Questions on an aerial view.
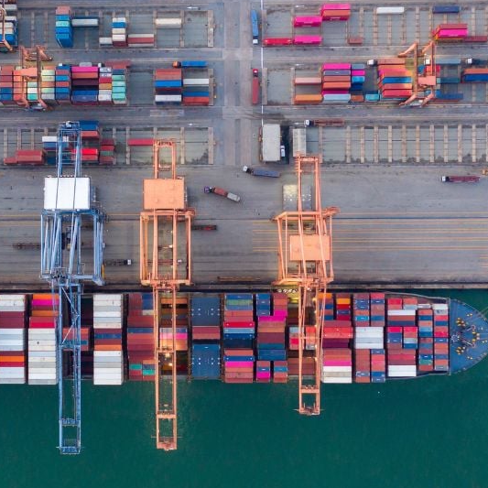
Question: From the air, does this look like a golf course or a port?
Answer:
port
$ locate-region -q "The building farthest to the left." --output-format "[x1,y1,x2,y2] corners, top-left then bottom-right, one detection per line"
[258,124,280,162]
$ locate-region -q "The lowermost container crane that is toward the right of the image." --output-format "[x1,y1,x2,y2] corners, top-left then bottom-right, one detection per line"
[262,152,347,415]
